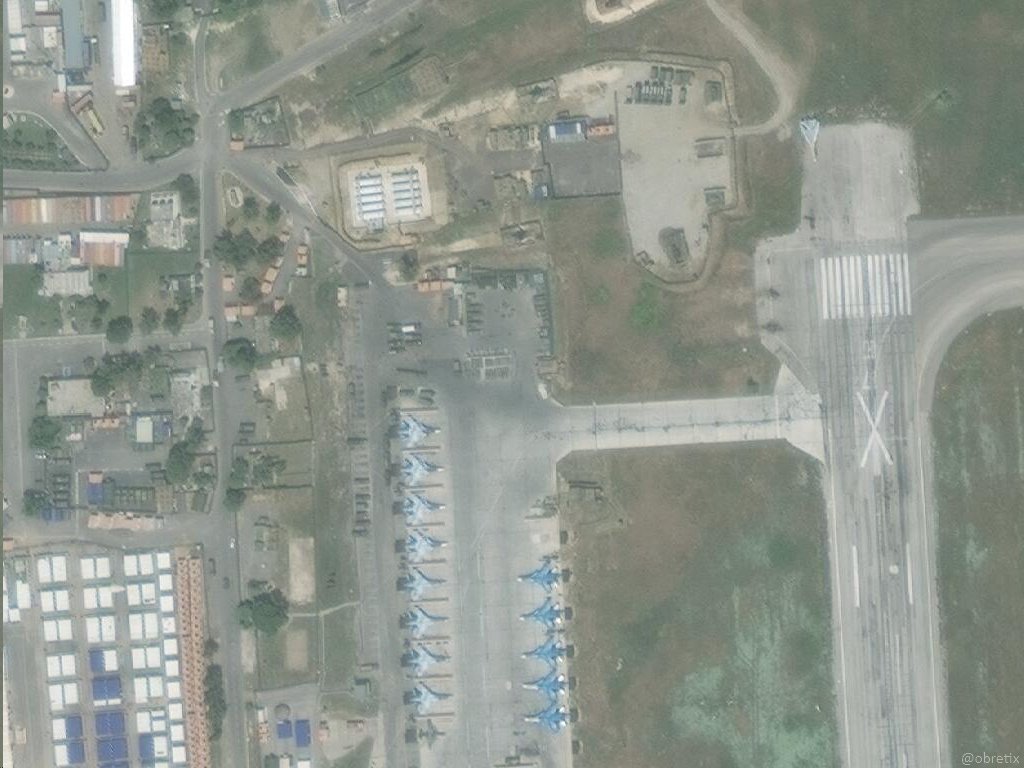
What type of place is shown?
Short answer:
airport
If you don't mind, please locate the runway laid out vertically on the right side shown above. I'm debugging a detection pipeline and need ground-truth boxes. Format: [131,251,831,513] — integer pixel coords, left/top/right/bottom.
[756,122,953,768]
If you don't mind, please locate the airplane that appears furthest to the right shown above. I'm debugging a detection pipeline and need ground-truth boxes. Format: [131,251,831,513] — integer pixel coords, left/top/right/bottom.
[801,119,820,160]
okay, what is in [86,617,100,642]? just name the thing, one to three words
shed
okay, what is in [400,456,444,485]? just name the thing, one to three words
airplane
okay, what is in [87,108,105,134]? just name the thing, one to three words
vehicle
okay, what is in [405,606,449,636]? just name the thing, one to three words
airplane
